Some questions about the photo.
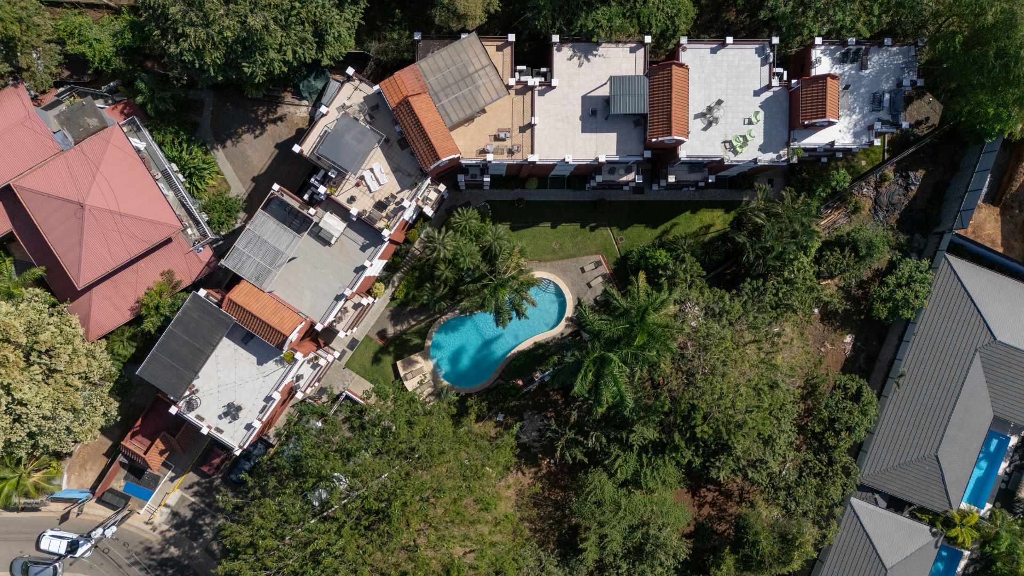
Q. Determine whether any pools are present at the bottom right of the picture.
Yes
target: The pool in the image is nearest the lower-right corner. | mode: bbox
[928,542,967,576]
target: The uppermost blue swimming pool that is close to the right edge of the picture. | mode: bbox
[958,429,1014,513]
